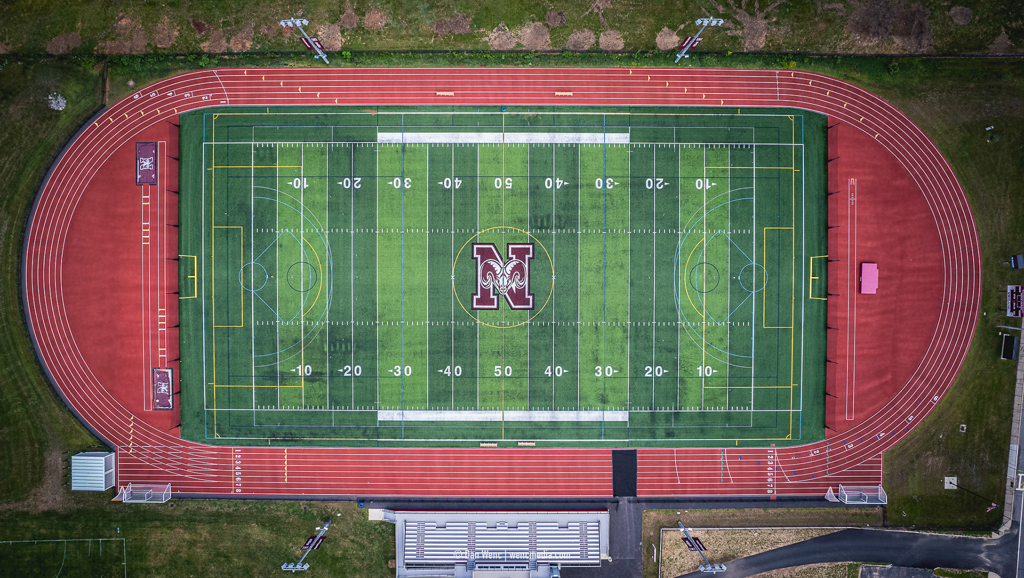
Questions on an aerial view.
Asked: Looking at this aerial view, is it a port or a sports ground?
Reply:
sports ground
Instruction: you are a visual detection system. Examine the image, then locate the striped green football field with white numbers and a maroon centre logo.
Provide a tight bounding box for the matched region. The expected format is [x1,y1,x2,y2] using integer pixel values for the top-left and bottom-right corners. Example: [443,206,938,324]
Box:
[179,106,828,447]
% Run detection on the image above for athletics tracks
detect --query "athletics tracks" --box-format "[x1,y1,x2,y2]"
[25,67,981,498]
